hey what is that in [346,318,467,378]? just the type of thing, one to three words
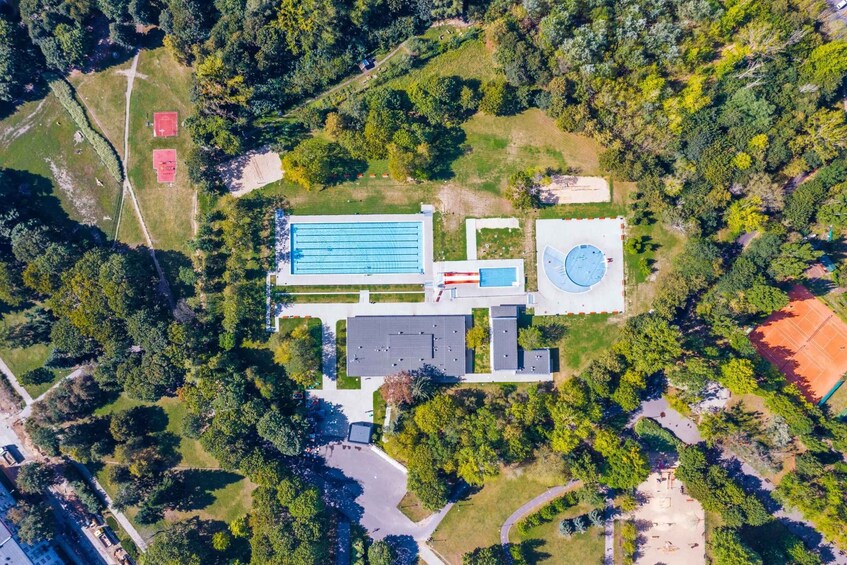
building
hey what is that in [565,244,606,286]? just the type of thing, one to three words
swimming pool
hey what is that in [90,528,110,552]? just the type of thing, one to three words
vehicle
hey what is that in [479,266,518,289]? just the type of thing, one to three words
swimming pool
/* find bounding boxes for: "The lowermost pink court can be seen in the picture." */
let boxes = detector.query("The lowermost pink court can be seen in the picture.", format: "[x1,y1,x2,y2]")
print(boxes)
[152,149,176,185]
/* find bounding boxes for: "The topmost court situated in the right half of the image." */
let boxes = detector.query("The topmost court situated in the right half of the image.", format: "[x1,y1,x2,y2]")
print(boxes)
[541,176,610,203]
